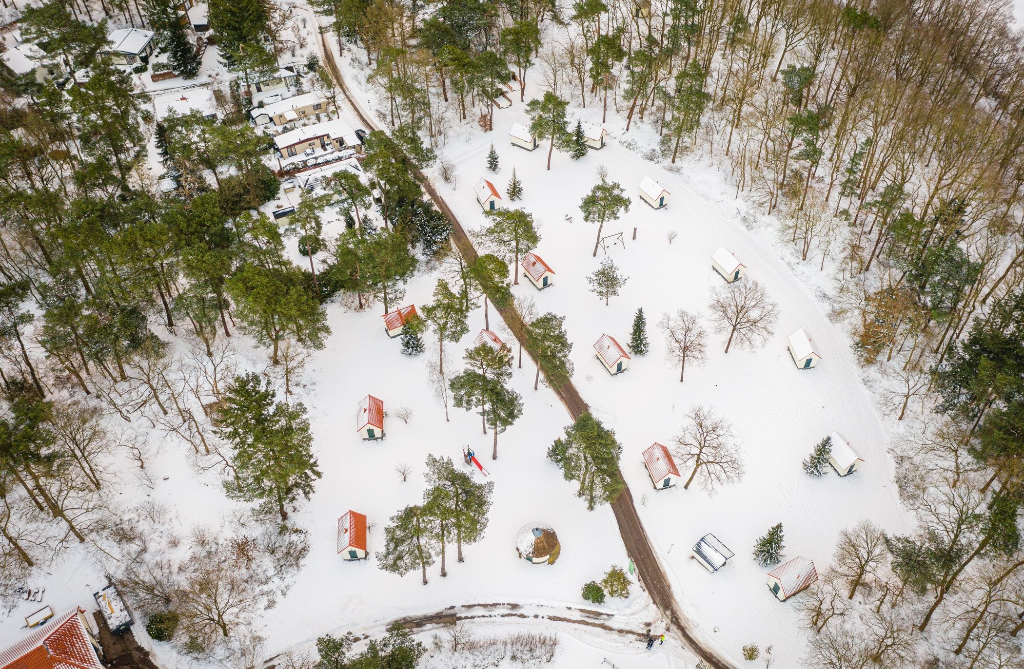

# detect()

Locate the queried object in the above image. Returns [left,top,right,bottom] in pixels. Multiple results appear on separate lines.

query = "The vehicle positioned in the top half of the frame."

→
[355,126,372,143]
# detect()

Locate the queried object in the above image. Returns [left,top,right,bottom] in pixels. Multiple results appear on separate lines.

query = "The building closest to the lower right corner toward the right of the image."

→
[767,555,820,603]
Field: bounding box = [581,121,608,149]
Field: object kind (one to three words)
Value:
building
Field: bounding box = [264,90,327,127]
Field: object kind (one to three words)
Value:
house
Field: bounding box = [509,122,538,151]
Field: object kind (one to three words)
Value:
building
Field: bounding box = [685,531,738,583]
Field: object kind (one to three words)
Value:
shed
